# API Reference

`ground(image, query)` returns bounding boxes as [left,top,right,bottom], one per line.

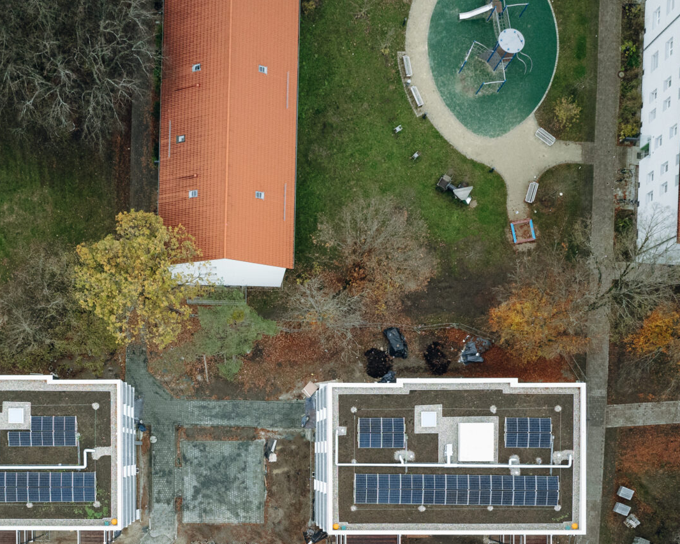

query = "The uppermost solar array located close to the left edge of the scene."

[8,416,78,446]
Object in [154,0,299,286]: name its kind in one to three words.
house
